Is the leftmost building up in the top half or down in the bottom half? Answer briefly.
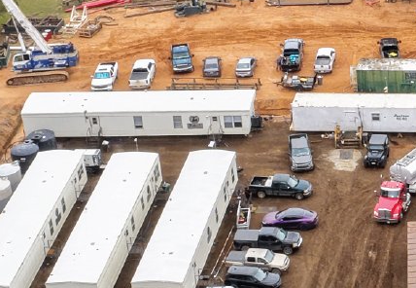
bottom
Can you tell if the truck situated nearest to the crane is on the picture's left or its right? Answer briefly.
left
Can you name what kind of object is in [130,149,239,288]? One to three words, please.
building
